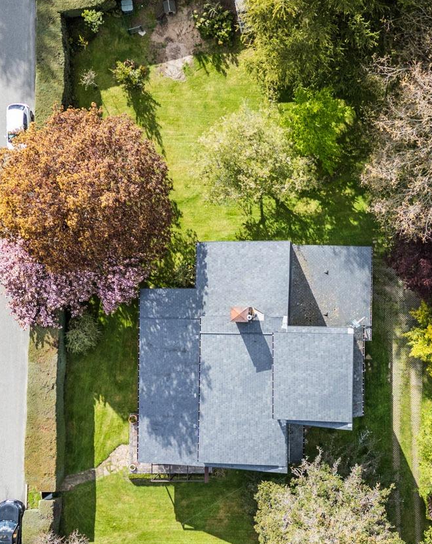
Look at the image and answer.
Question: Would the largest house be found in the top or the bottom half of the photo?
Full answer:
The largest house sits in the bottom half of the picture.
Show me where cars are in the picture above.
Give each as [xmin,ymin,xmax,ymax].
[3,98,35,151]
[0,498,27,544]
